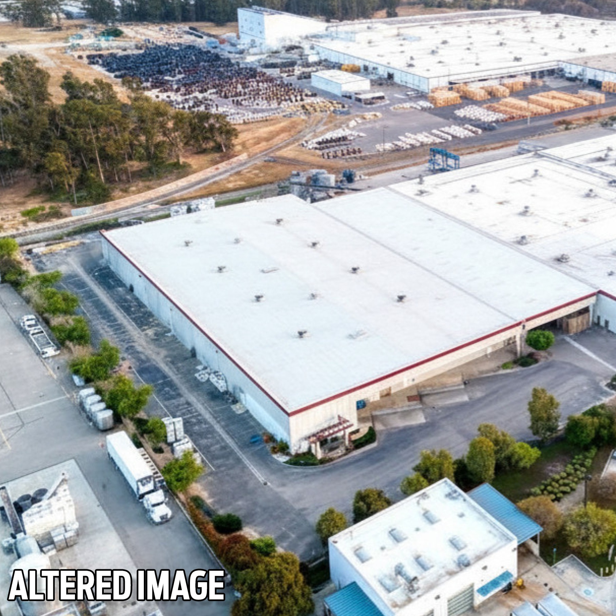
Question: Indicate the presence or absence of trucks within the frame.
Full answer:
Yes, the image includes a truck.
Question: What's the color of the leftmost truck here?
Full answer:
The color of the leftmost truck is white.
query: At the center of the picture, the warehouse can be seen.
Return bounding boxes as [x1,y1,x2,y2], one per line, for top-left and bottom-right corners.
[101,152,616,456]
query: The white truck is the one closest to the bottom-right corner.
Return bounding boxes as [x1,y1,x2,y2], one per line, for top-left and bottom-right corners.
[541,594,575,616]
